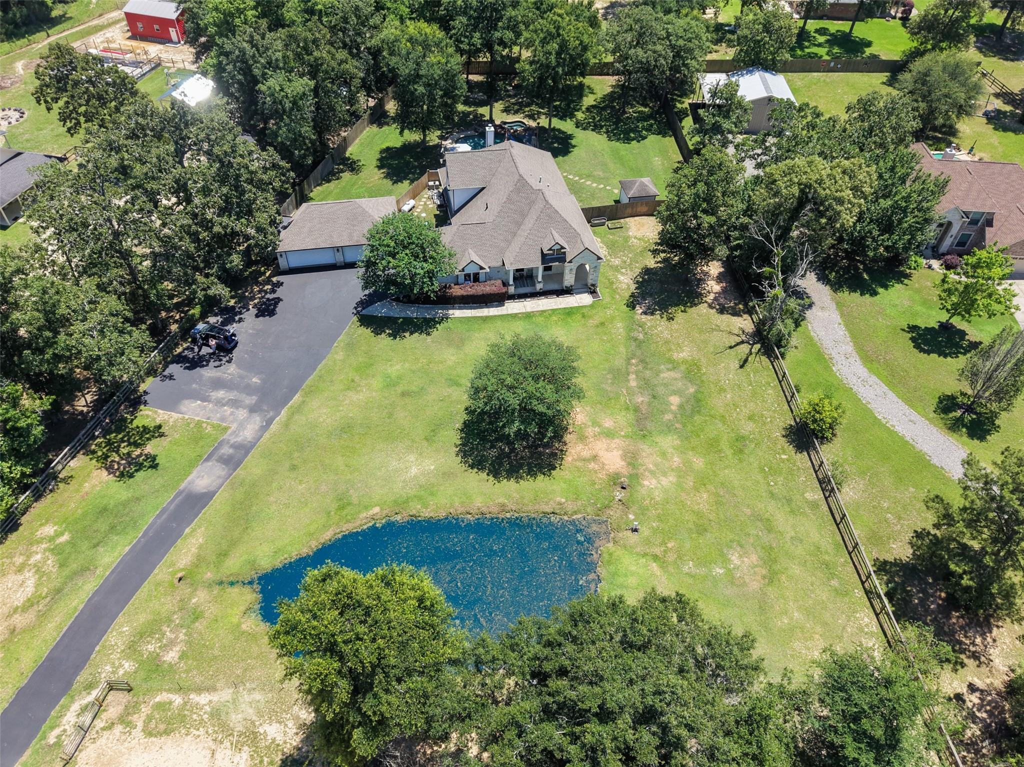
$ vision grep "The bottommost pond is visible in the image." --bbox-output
[251,513,616,681]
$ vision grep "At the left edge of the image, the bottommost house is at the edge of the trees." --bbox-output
[0,168,50,238]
